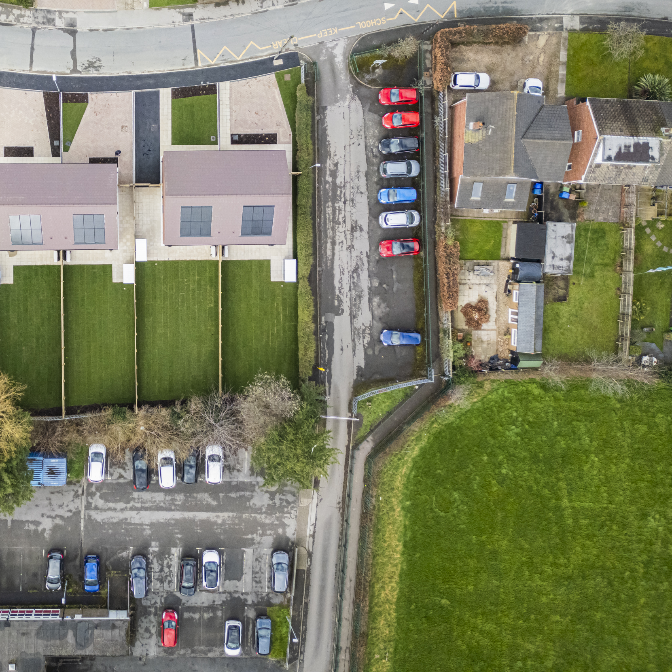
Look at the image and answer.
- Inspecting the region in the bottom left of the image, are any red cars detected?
Yes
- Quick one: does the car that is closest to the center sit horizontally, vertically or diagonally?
horizontally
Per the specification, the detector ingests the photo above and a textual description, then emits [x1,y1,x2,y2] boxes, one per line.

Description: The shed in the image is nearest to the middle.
[281,259,296,282]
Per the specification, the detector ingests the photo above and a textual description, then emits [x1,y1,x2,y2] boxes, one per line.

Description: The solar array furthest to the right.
[242,206,273,237]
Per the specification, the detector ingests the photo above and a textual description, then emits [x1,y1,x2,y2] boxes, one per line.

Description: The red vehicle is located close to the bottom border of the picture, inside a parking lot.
[160,607,178,648]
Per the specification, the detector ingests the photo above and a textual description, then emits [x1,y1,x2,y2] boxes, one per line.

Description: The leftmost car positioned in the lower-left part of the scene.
[44,550,63,590]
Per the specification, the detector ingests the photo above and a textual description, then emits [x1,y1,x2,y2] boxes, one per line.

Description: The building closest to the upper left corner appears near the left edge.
[0,163,118,251]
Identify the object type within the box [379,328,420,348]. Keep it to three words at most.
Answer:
car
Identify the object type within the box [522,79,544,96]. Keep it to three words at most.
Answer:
car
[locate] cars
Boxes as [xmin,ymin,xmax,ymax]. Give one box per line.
[202,548,220,589]
[224,618,243,656]
[378,159,420,178]
[156,447,176,488]
[131,448,149,490]
[380,111,419,130]
[44,550,63,590]
[182,447,200,484]
[82,554,102,592]
[522,79,544,96]
[254,614,274,656]
[204,444,223,484]
[270,550,290,593]
[177,555,197,595]
[377,186,416,205]
[377,86,418,106]
[379,328,420,348]
[453,71,490,90]
[86,442,106,483]
[128,554,149,598]
[378,209,420,229]
[160,607,178,648]
[378,238,420,258]
[378,135,419,155]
